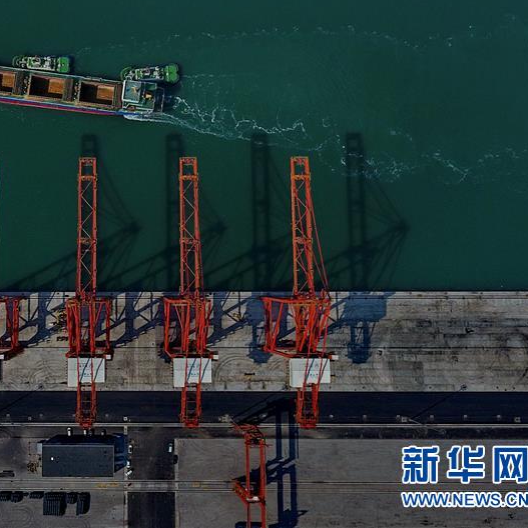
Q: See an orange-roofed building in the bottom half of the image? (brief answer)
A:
No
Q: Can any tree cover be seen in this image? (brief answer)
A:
No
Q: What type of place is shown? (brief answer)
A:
port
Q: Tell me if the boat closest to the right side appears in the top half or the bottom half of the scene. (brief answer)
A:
top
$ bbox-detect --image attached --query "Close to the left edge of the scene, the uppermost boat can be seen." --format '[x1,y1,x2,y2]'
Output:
[12,54,71,74]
